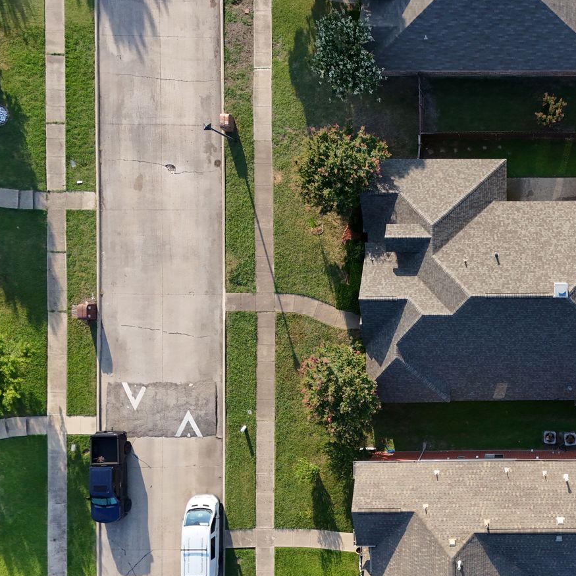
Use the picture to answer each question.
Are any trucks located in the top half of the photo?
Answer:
No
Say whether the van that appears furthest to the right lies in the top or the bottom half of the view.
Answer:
bottom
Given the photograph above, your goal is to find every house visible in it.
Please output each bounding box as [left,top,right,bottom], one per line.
[352,443,576,576]
[360,158,576,403]
[362,0,576,77]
